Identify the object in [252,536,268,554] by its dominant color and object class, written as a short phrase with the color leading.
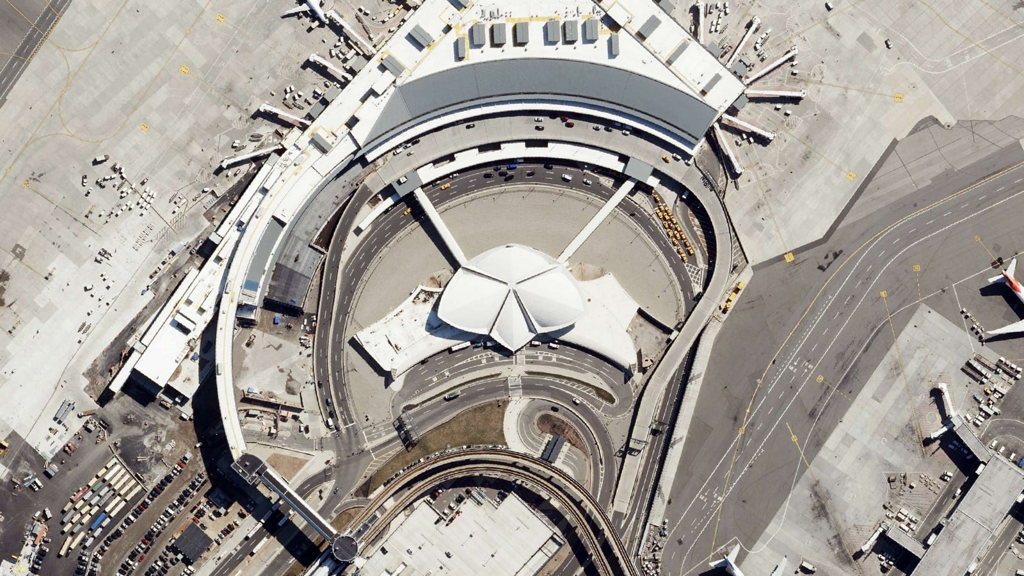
white vehicle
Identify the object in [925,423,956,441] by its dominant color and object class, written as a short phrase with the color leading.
white jet bridge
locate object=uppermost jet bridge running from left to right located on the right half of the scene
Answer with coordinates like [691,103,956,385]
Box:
[742,87,809,99]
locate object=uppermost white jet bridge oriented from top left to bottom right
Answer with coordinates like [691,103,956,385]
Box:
[325,9,377,55]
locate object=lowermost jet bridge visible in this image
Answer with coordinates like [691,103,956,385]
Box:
[860,520,891,553]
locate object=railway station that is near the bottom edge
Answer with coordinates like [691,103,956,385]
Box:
[306,541,367,576]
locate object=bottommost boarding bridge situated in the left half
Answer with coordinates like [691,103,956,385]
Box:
[220,144,285,168]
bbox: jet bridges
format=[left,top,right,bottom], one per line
[697,0,706,46]
[860,520,891,553]
[720,112,778,140]
[220,144,285,168]
[307,53,353,81]
[325,9,377,55]
[725,15,761,69]
[937,381,958,413]
[742,87,809,99]
[712,119,744,175]
[925,423,956,441]
[259,103,311,126]
[743,46,800,85]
